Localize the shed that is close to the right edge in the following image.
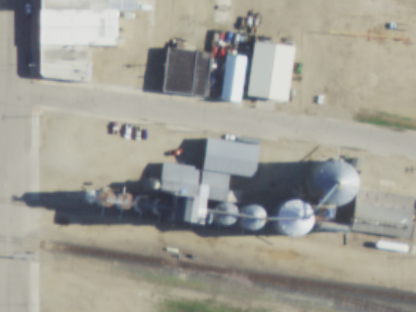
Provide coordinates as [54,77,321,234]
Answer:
[353,191,415,236]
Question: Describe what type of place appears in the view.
industrial area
